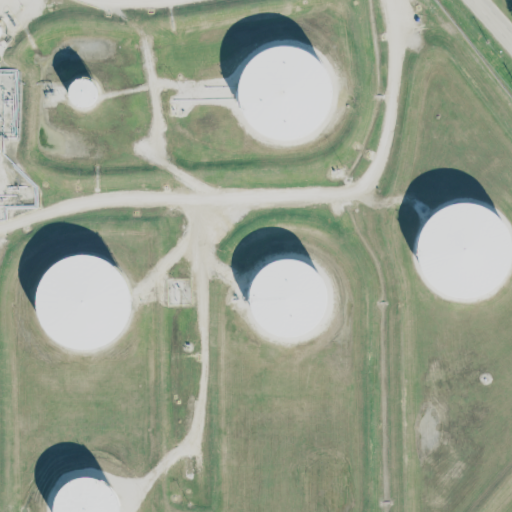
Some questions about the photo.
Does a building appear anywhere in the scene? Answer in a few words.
No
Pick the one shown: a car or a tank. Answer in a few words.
tank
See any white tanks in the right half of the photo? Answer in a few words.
Yes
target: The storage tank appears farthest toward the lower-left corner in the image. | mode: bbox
[50,476,118,512]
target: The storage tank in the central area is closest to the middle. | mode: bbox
[248,259,328,337]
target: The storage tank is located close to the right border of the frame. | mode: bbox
[416,204,512,298]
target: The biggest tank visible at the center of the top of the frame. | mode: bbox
[236,46,332,140]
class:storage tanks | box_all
[34,254,132,350]
[248,259,328,337]
[236,46,332,140]
[50,476,118,512]
[67,78,99,112]
[416,204,512,298]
